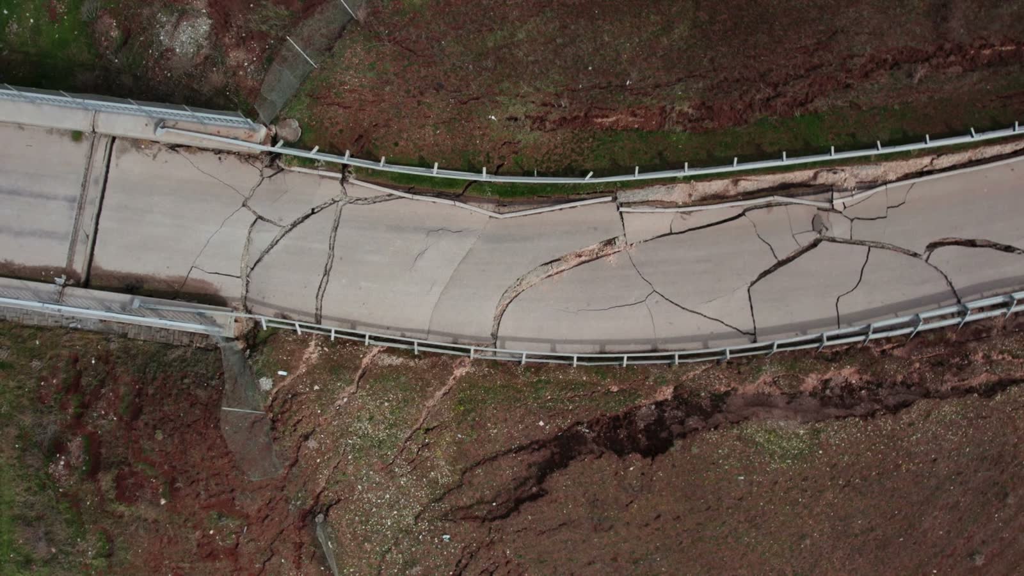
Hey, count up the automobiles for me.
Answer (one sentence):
No automobiles are visible.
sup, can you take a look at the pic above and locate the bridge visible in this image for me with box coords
[0,96,279,337]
